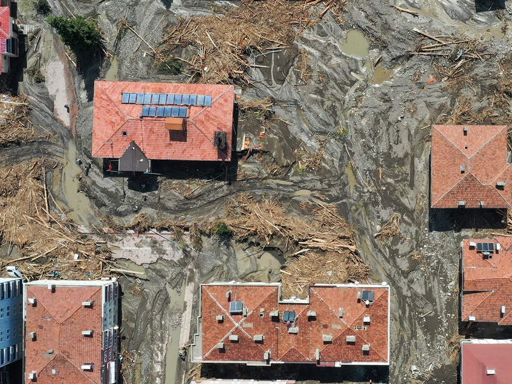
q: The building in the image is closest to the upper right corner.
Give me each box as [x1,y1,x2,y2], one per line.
[430,125,512,208]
